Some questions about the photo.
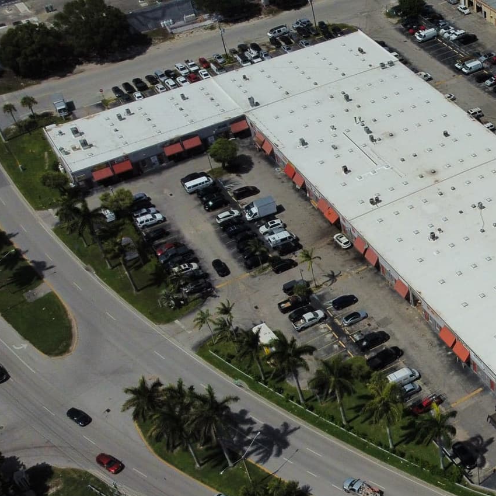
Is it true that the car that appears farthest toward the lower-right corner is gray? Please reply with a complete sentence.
No, from above the car that appears farthest toward the lower-right corner looks black.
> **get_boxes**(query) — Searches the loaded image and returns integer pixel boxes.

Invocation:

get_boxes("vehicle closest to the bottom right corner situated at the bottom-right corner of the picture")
[453,438,475,471]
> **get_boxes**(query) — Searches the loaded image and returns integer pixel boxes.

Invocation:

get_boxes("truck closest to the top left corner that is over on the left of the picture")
[47,89,69,118]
